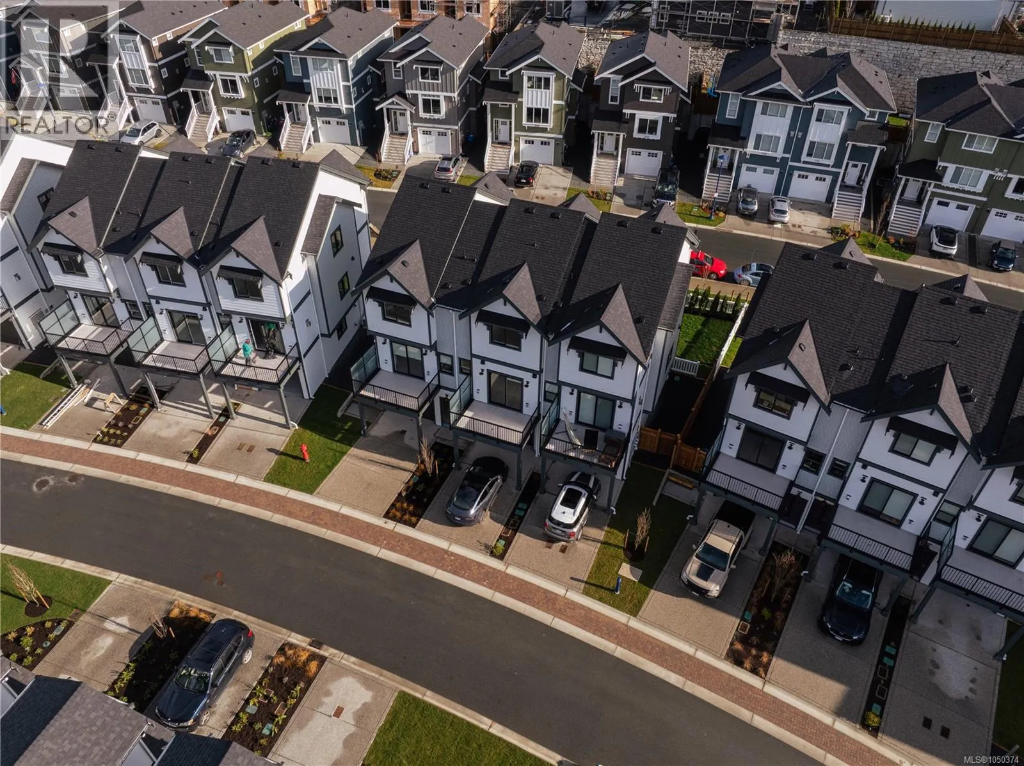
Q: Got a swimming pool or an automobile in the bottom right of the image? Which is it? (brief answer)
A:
automobile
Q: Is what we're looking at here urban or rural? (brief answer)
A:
urban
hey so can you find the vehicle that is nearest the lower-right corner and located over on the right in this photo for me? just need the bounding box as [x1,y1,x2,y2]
[827,559,886,640]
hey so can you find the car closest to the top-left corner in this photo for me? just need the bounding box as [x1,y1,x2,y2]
[116,113,165,138]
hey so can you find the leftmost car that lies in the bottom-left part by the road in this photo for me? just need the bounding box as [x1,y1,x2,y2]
[157,616,260,731]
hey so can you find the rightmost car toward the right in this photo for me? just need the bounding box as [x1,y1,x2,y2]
[989,233,1024,268]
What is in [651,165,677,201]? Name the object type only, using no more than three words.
car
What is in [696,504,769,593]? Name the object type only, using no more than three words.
vehicle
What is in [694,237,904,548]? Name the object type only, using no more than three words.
house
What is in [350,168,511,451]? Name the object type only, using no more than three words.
house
